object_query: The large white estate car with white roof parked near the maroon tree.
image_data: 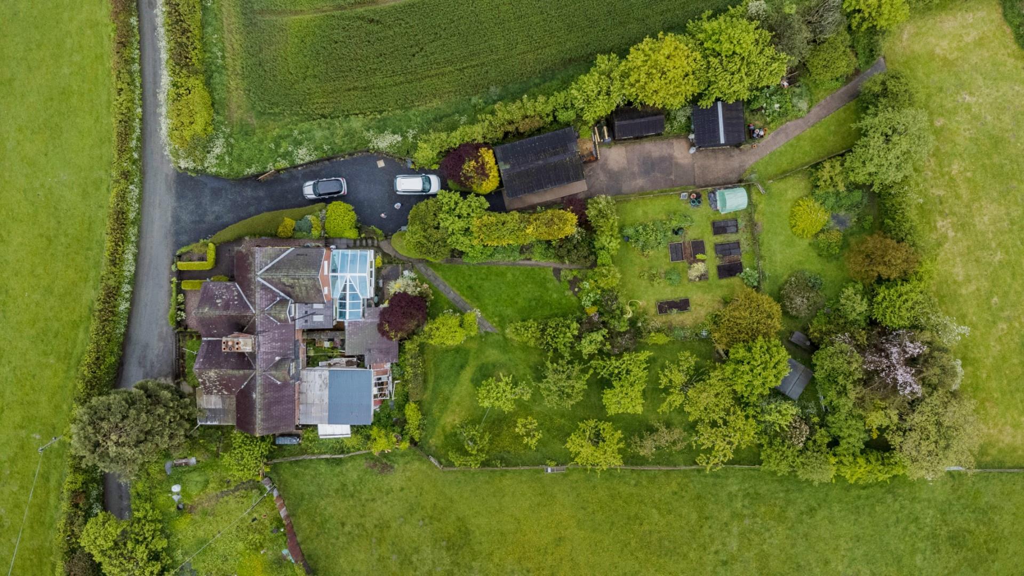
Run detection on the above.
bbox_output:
[395,173,441,195]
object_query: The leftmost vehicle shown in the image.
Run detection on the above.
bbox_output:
[304,177,349,200]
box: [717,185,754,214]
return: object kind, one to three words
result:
greenhouse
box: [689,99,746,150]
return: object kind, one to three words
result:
shed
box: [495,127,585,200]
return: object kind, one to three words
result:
building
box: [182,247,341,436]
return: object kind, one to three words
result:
house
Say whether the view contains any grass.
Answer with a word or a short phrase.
Yes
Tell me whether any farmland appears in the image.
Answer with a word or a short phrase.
Yes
